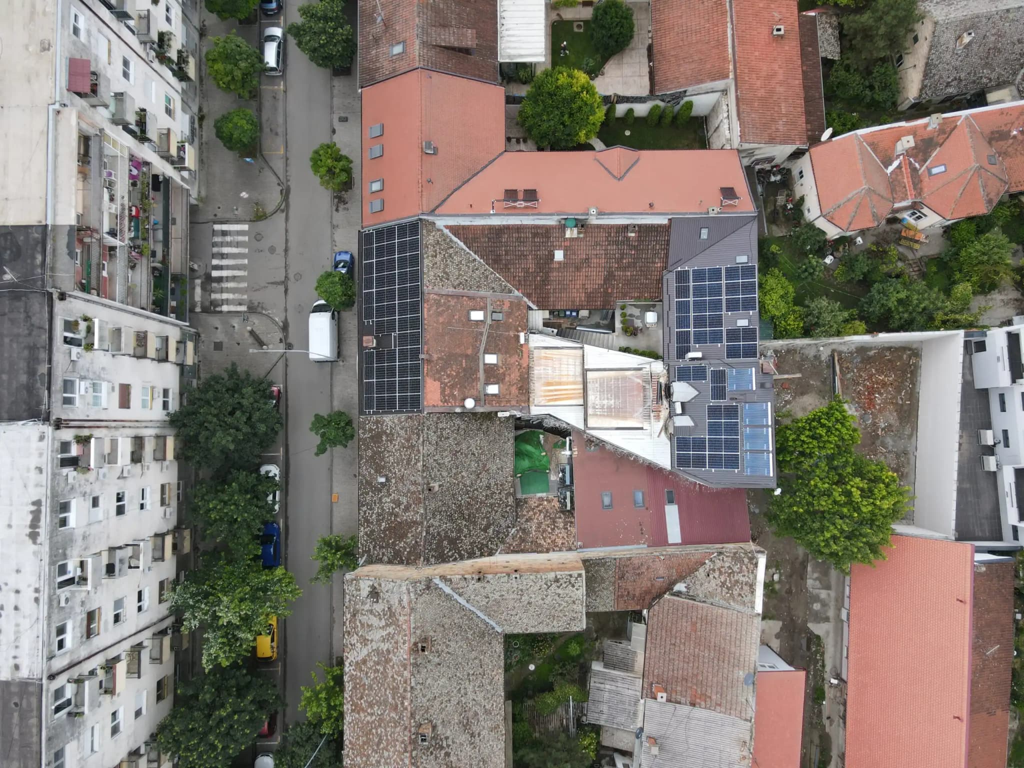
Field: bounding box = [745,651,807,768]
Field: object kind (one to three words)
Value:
house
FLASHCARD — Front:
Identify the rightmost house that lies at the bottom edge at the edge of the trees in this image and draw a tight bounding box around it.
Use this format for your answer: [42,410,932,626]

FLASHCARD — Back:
[833,534,1013,768]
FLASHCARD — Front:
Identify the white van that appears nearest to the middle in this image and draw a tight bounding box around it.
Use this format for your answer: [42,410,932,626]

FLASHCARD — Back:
[309,303,339,360]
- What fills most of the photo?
buildings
